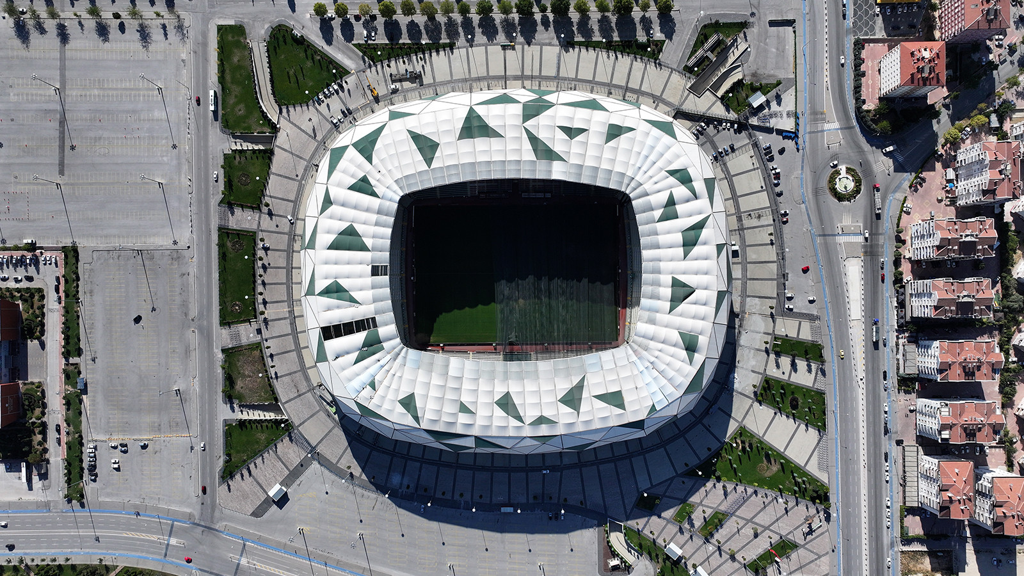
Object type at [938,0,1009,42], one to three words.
building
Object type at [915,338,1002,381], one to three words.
building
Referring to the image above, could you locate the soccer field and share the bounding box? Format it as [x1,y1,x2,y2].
[407,196,627,352]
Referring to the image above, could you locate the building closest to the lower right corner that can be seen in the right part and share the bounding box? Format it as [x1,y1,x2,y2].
[970,469,1024,535]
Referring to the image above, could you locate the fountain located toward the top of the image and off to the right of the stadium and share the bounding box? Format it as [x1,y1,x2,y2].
[837,175,855,194]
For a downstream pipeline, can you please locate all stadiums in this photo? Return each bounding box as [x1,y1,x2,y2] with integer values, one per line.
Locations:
[300,88,733,455]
